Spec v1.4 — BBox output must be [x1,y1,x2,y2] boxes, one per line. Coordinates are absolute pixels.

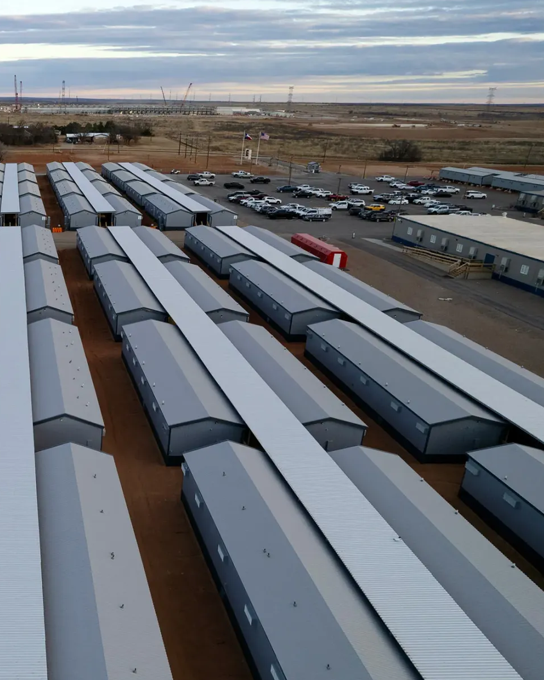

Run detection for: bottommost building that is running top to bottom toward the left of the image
[33,442,174,680]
